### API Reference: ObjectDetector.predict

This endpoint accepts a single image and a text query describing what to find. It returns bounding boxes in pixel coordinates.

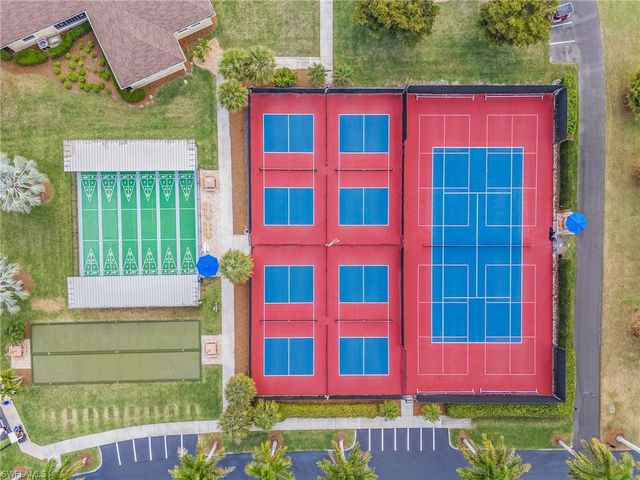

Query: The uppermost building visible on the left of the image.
[0,0,218,91]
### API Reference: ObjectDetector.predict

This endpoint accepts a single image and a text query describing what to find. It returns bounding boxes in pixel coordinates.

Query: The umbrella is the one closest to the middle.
[196,254,219,277]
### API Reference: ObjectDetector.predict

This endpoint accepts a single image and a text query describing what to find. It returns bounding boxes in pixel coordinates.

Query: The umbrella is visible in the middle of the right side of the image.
[565,212,586,233]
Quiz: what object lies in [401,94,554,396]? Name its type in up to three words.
tennis court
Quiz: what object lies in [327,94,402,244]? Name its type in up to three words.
sports court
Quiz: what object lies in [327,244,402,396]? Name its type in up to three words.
sports court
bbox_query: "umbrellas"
[565,212,586,233]
[196,254,219,277]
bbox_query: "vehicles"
[0,419,16,436]
[548,2,576,24]
[8,424,31,442]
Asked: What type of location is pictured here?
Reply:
sports ground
